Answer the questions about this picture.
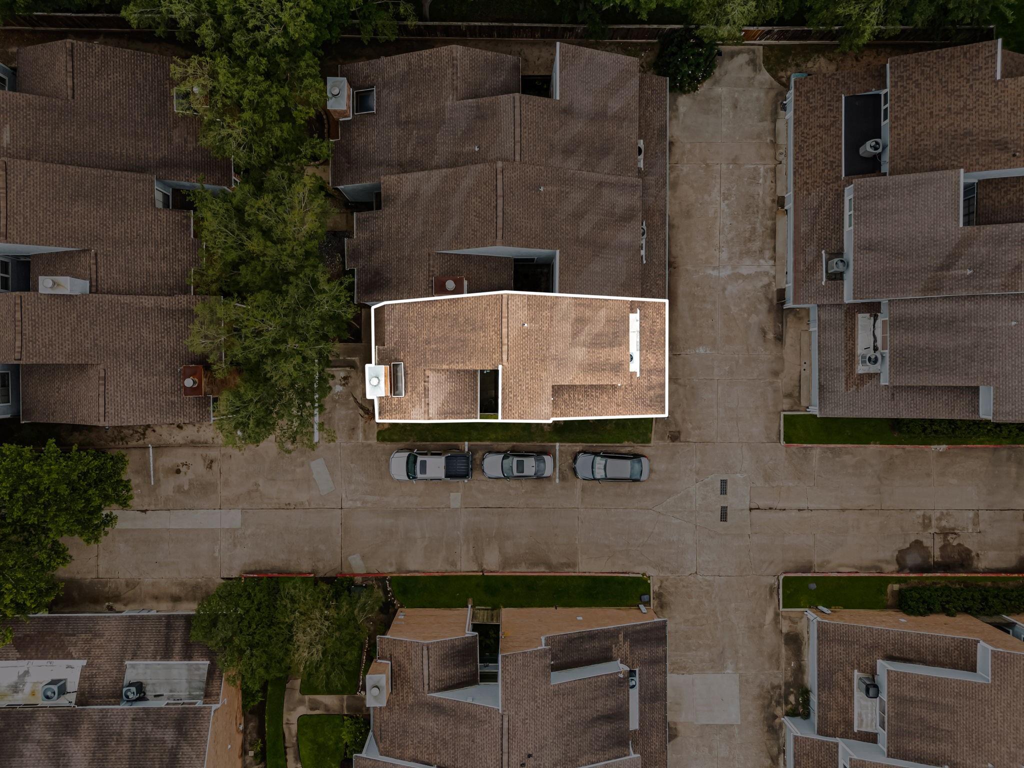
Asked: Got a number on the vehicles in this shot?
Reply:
3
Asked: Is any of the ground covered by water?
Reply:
No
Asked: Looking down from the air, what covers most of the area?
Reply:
buildings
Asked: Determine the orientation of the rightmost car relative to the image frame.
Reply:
from side to side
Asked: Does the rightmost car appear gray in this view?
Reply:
Yes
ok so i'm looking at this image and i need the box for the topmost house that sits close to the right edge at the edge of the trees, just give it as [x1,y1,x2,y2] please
[785,39,1024,193]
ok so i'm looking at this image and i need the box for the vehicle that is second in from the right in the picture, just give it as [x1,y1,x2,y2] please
[482,451,552,484]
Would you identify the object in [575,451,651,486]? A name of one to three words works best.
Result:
car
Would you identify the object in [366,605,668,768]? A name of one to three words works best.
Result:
house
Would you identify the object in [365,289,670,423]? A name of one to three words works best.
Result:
house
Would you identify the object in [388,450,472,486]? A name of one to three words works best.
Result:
truck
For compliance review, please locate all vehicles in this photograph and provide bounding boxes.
[575,451,651,486]
[482,451,552,484]
[388,450,472,486]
